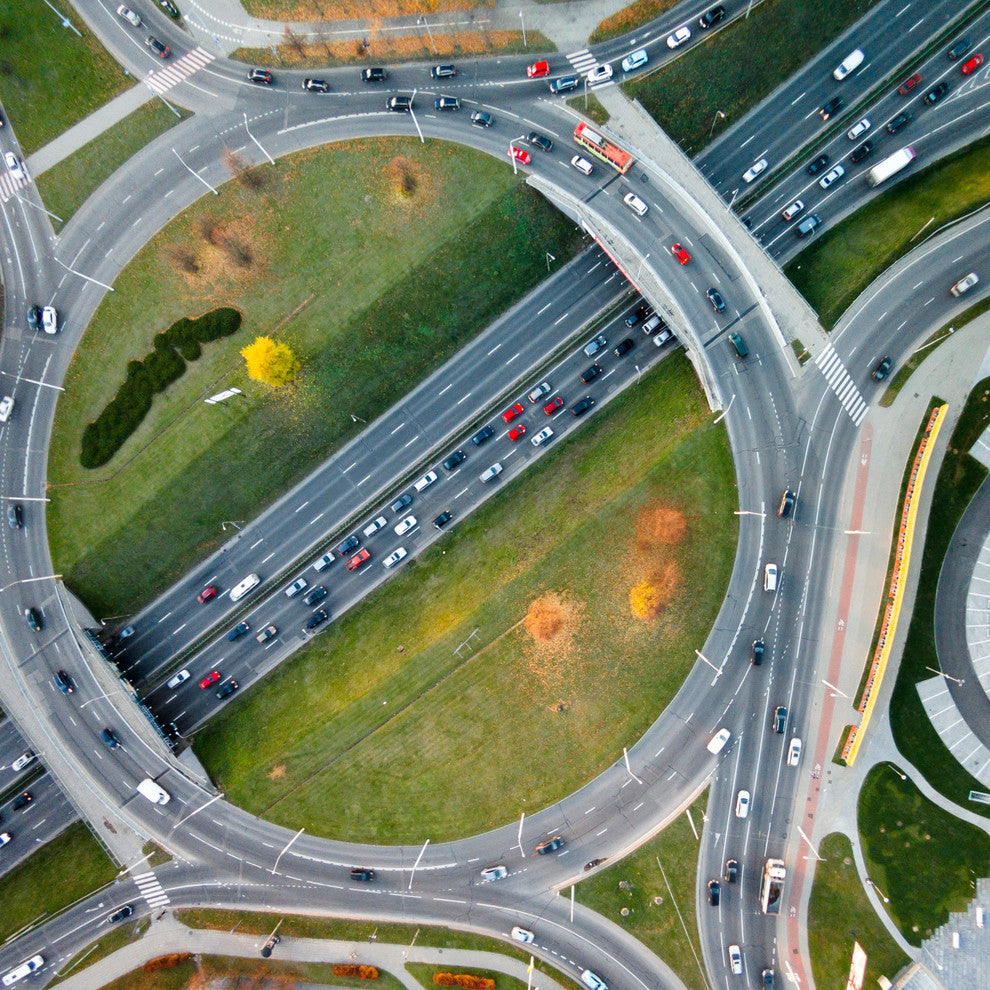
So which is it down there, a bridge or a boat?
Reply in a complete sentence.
It is a bridge that can be seen here.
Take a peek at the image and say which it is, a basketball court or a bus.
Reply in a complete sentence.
The image shows a bus.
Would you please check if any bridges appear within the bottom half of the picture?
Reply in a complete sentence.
Yes, looking within the bottom half of the picture, one can make out a bridge.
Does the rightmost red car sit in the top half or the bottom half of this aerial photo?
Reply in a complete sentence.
The rightmost red car is in the top half of the image.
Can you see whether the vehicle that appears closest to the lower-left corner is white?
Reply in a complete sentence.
Yes, the vehicle that appears closest to the lower-left corner appears white.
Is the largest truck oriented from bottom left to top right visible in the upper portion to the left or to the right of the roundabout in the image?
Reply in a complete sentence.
Relative to the roundabout, the largest truck oriented from bottom left to top right visible in the upper portion lies to the right.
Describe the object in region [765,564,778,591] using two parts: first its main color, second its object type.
white vehicle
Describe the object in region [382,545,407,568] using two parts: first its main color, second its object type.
white car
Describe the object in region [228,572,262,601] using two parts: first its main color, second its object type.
white van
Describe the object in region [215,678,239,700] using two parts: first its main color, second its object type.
black car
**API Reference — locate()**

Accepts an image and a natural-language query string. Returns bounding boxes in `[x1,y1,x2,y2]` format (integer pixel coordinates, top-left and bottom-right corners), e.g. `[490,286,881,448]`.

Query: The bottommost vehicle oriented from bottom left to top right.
[0,951,47,989]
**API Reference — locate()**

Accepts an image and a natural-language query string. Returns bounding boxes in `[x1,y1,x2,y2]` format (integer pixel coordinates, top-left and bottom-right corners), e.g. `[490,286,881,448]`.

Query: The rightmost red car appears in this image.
[959,52,985,75]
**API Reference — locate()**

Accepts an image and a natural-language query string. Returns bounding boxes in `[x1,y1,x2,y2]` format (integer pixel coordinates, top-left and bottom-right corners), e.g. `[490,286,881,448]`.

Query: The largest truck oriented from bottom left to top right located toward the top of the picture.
[865,148,916,189]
